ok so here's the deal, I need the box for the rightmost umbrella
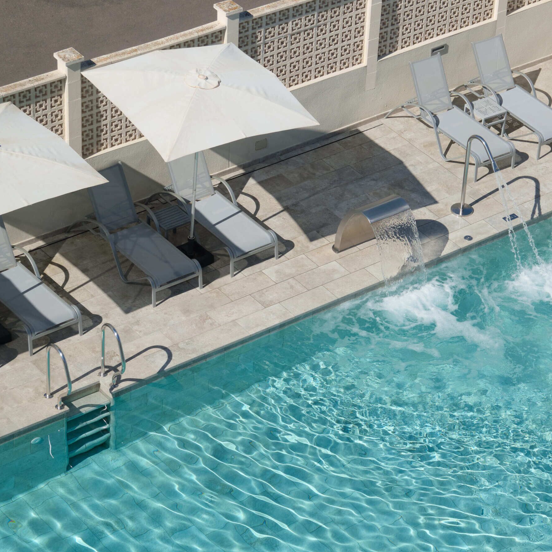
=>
[82,42,320,261]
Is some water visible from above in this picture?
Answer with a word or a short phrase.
Yes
